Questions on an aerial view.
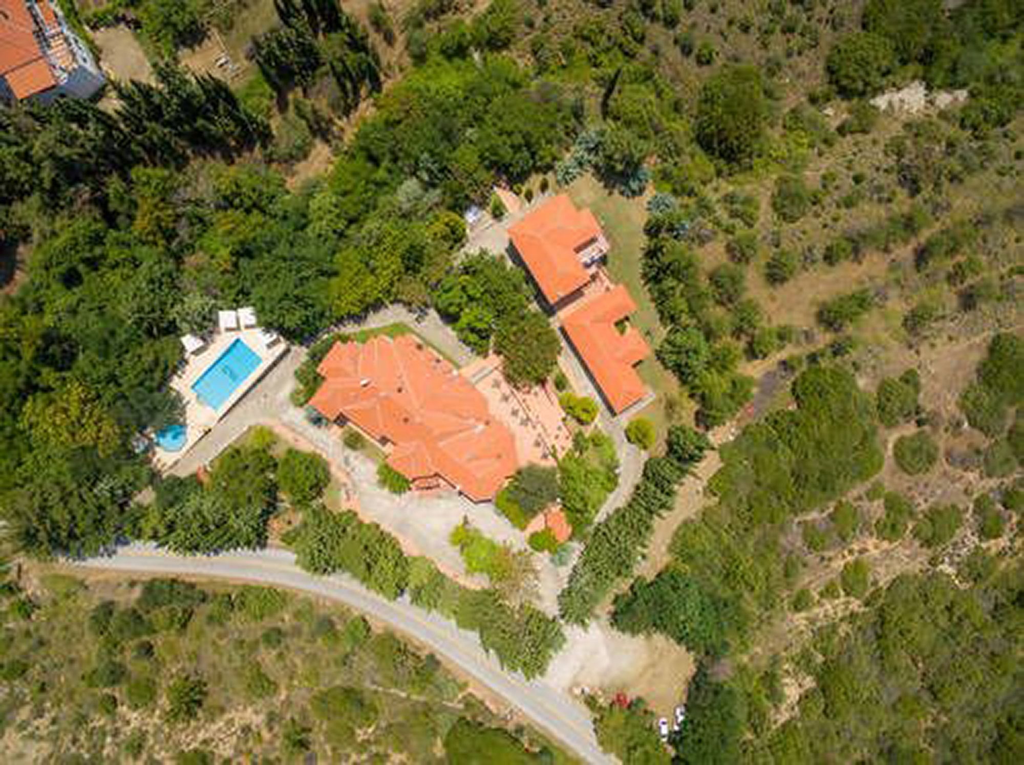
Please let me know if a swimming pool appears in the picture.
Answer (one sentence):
Yes, a swimming pool appears in the view.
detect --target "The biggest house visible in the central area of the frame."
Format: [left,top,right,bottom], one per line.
[308,334,517,503]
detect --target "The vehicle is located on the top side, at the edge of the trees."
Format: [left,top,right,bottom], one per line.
[464,203,481,226]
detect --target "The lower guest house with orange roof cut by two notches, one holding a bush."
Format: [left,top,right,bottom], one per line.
[561,284,651,414]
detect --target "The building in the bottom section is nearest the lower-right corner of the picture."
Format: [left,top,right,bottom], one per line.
[547,508,572,543]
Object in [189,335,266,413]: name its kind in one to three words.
swimming pool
